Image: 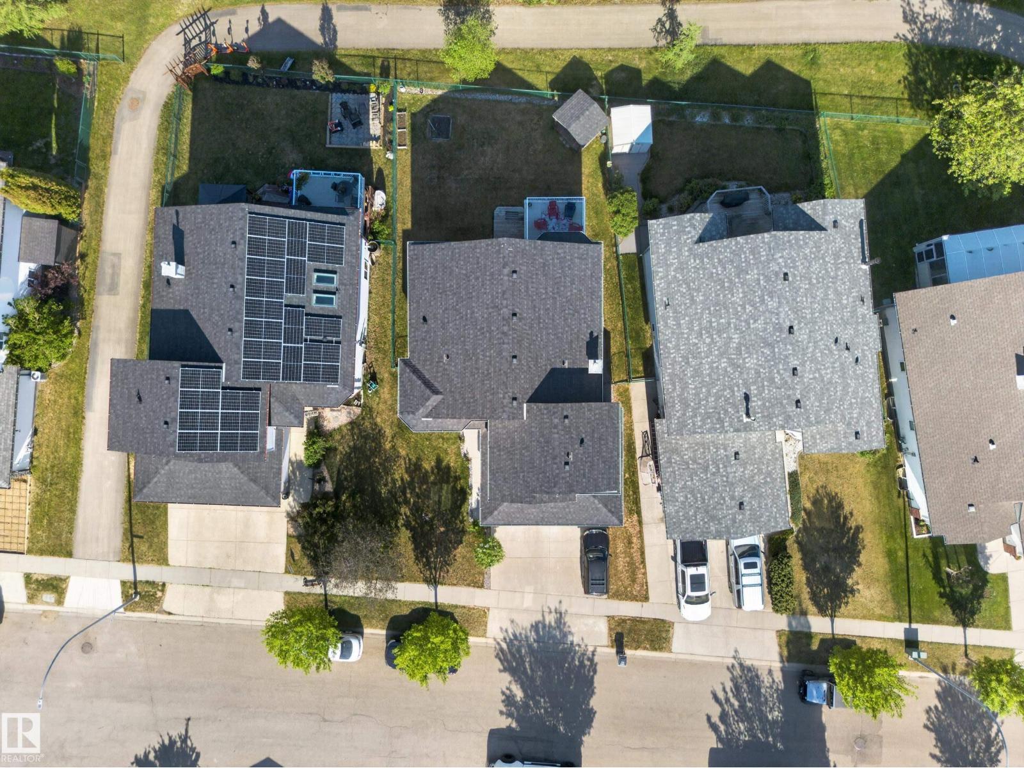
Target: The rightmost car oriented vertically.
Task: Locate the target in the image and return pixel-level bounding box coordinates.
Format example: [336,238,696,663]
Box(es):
[730,535,766,612]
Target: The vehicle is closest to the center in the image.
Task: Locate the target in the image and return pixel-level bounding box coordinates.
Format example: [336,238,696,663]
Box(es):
[580,528,611,595]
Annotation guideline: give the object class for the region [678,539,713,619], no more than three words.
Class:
truck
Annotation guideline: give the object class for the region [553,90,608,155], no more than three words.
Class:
shed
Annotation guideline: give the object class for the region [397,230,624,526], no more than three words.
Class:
house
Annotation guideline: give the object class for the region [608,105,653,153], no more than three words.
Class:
shed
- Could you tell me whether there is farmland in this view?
No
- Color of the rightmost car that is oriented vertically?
white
